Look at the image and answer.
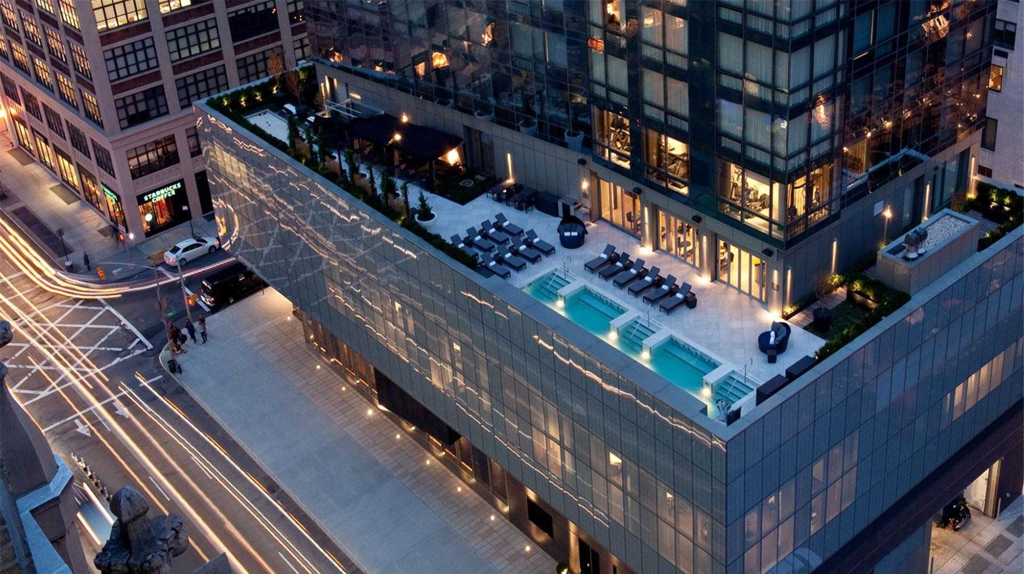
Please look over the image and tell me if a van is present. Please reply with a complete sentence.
Yes, a van is visible in the scene.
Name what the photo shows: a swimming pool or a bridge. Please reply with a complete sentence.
It is a swimming pool that can be seen here.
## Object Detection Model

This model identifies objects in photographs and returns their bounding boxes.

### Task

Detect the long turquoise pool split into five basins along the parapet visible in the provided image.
[517,263,765,417]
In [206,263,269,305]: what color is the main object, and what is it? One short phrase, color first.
black van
